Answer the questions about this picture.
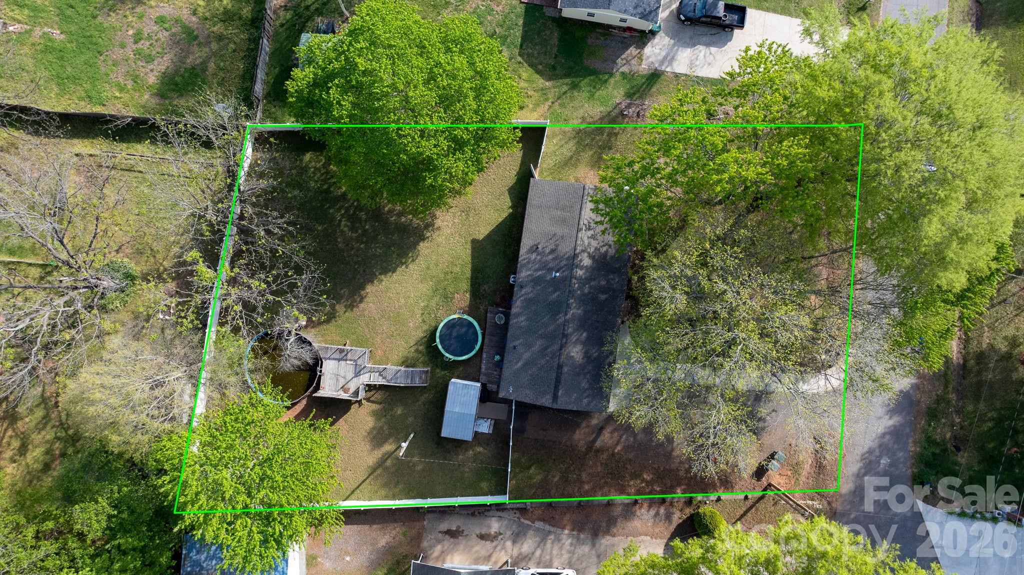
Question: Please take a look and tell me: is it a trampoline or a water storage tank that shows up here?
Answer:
trampoline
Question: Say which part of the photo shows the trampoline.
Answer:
center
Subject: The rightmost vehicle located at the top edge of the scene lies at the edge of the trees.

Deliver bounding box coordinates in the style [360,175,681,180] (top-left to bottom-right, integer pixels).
[675,0,750,32]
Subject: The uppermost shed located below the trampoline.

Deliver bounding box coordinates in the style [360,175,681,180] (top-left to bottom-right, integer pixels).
[441,377,483,442]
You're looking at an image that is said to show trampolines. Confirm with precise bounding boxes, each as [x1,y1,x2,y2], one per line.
[430,312,484,365]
